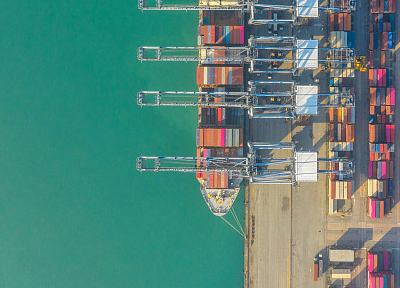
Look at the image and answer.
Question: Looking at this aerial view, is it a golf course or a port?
port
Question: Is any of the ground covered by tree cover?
No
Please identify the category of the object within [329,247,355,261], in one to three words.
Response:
building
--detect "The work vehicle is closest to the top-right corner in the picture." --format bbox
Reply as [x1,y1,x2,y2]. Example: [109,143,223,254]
[355,54,367,72]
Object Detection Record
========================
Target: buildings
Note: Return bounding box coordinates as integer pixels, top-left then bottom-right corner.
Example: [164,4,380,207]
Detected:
[332,267,352,277]
[329,247,355,261]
